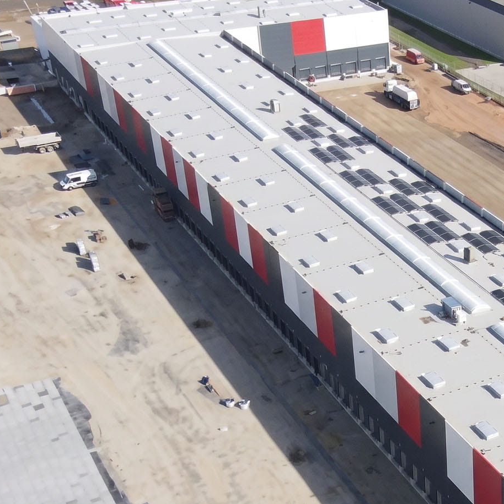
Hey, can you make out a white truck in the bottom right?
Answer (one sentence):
No, I can find no white truck in the bottom right.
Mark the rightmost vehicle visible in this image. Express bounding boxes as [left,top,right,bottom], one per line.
[448,75,473,94]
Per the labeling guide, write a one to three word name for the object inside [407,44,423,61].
vehicle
